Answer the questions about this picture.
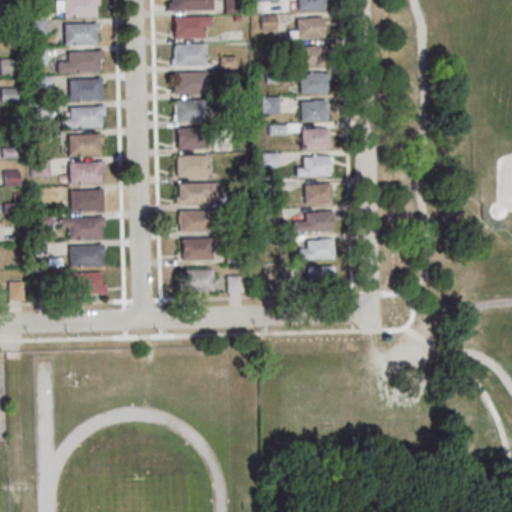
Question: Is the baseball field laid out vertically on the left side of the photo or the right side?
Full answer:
The baseball field laid out vertically appears in the right half of the scene.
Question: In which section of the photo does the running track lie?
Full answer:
You can find the running track in the bottom left area of the picture.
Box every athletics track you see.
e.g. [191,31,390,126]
[38,361,228,512]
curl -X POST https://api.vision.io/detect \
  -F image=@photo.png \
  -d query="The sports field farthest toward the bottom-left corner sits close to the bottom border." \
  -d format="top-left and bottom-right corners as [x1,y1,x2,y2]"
[56,422,214,512]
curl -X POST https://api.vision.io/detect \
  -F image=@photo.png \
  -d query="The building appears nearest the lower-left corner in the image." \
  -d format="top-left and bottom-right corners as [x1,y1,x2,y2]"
[8,281,26,302]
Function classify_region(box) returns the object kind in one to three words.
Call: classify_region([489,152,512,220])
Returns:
baseball field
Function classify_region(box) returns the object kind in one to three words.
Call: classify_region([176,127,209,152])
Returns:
house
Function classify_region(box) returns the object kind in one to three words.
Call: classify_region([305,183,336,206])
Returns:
house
